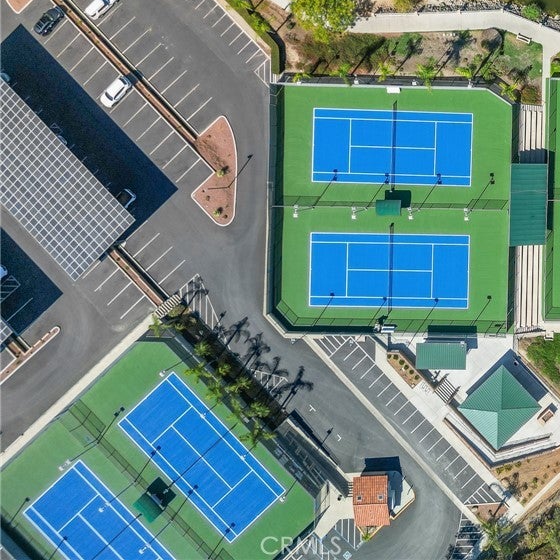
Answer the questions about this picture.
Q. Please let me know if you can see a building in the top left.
No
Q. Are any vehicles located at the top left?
Yes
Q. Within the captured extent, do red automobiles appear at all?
No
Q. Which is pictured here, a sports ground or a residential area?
sports ground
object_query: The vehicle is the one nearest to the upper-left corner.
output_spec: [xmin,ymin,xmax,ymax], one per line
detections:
[26,5,62,35]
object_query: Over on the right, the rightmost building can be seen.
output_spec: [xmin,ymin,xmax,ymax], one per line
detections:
[457,363,541,450]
